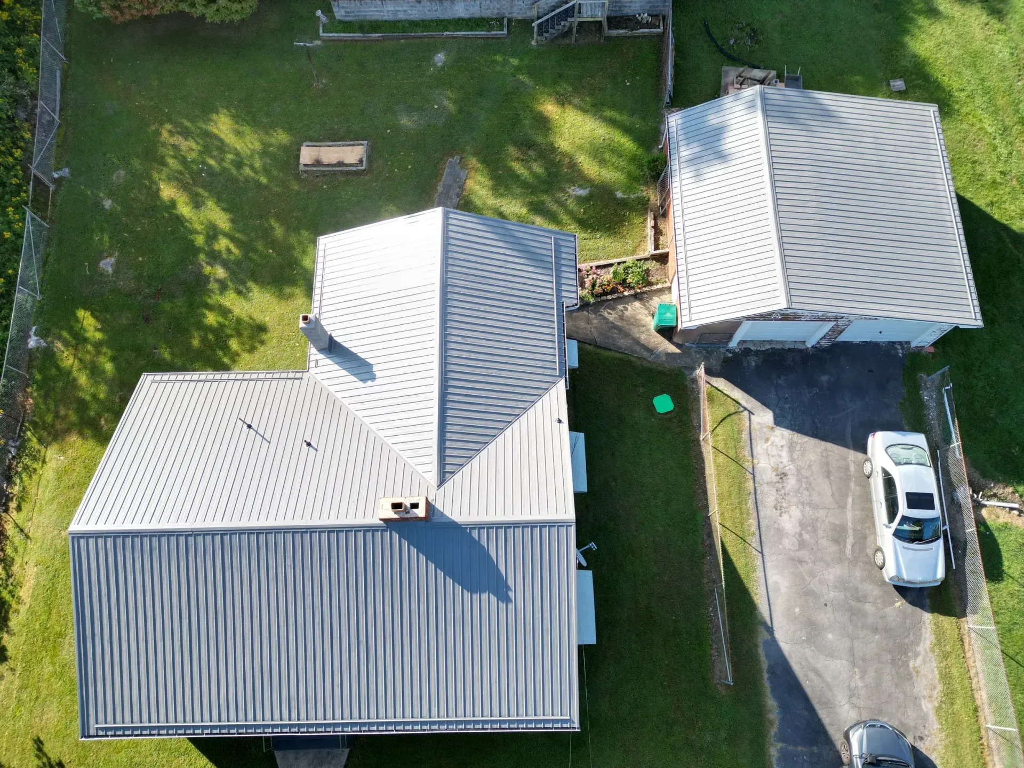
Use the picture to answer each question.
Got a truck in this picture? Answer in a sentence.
No, I can't see a single truck in this photo.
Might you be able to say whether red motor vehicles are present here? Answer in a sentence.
No, there isn't any red motor vehicle down there.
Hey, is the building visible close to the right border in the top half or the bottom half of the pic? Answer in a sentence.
The building visible close to the right border is in the top half of the image.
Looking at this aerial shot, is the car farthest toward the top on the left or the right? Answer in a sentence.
The car farthest toward the top appears in the right half of the scene.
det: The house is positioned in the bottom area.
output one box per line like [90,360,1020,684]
[64,204,596,760]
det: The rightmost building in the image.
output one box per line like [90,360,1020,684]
[663,83,985,344]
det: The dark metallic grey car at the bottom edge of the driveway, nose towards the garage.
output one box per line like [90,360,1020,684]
[839,712,923,768]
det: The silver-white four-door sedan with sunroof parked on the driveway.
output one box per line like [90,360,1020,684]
[863,436,953,593]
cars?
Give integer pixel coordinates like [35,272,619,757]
[839,712,923,768]
[863,436,953,593]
